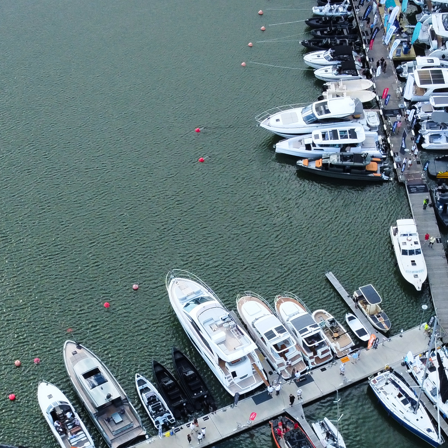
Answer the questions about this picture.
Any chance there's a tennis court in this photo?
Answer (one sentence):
No, there's no tennis court here.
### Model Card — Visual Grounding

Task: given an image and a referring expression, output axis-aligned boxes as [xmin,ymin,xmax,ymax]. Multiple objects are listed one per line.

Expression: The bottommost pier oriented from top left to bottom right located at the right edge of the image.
[404,373,448,440]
